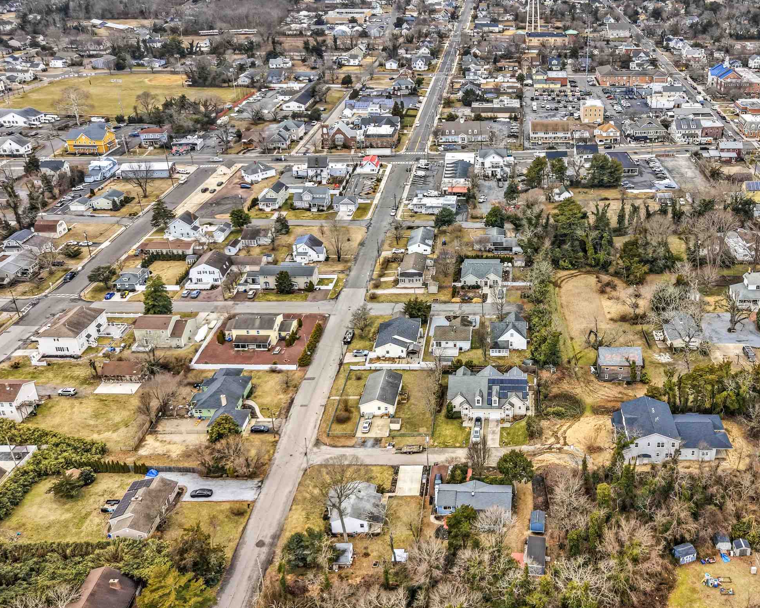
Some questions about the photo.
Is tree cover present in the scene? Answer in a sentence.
Yes, the picture does contain tree cover.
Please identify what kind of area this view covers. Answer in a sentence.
This looks like a residential area.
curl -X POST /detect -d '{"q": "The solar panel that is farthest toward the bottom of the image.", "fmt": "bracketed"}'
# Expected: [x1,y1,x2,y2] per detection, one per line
[121,479,155,512]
